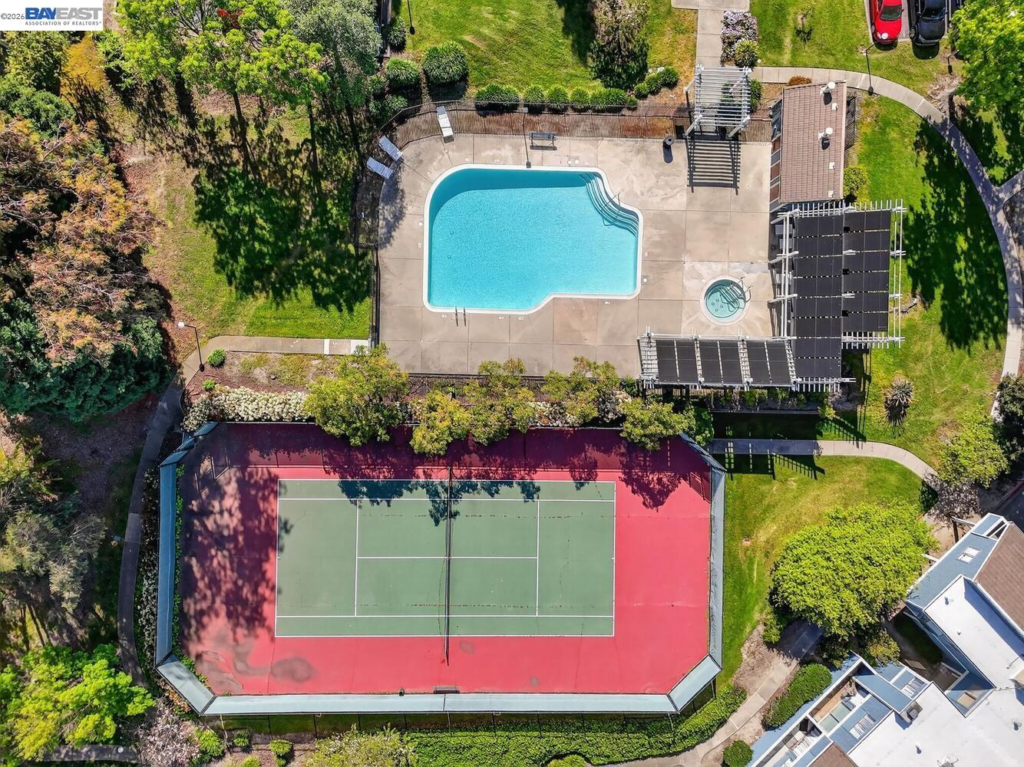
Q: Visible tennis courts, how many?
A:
1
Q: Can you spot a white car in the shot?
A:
No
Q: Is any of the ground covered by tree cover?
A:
Yes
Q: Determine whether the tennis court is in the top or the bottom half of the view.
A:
bottom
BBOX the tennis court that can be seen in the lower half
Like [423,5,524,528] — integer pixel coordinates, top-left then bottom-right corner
[171,420,713,696]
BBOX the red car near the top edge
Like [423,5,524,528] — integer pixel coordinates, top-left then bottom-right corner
[869,0,903,40]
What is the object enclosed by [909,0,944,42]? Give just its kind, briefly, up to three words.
car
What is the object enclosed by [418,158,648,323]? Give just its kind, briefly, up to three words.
swimming pool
